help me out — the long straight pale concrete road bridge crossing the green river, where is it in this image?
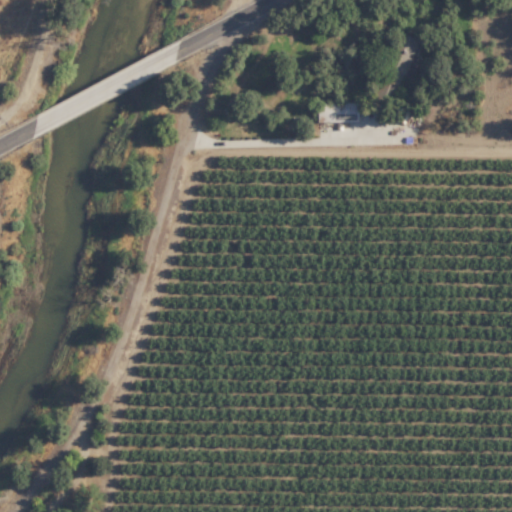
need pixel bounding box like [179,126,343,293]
[34,41,180,140]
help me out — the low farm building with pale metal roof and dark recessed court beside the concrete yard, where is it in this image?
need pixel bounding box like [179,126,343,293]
[320,104,359,122]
